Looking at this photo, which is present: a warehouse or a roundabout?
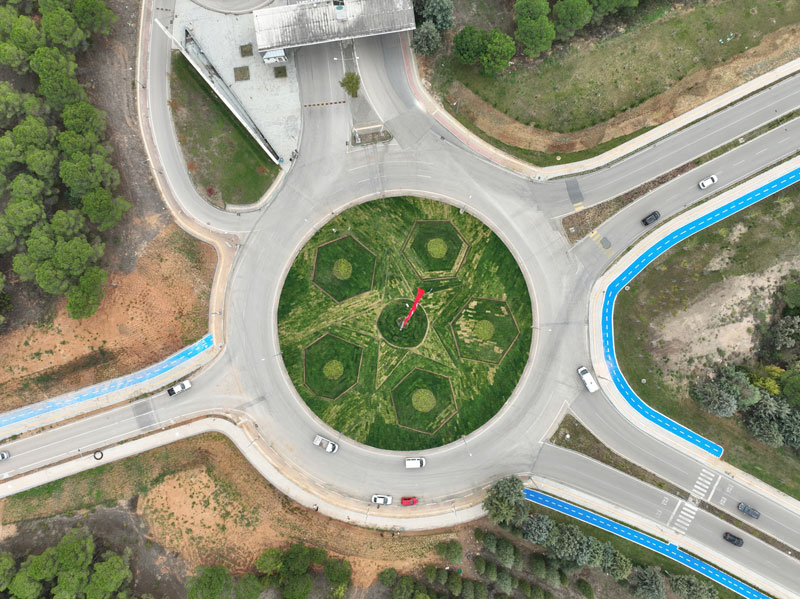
roundabout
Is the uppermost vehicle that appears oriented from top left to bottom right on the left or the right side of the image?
right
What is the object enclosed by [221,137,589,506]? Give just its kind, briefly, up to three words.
roundabout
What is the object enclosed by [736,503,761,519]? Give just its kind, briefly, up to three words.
vehicle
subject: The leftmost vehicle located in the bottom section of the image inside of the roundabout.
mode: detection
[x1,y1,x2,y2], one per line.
[312,433,339,452]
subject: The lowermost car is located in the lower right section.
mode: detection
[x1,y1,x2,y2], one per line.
[722,530,743,545]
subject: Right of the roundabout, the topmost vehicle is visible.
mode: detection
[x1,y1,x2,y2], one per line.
[697,175,718,190]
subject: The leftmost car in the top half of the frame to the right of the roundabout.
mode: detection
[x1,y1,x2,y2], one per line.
[640,210,660,226]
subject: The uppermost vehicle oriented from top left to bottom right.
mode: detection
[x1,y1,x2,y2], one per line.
[577,366,599,393]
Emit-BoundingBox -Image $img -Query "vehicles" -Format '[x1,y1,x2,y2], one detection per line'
[405,457,425,468]
[166,378,192,396]
[312,433,339,452]
[371,494,392,503]
[640,210,660,226]
[401,495,418,505]
[697,175,718,190]
[722,530,743,545]
[577,366,599,393]
[736,503,761,519]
